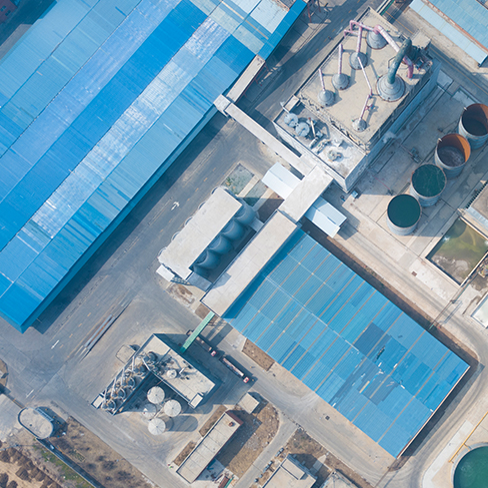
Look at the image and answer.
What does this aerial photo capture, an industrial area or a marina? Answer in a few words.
industrial area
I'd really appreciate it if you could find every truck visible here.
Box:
[183,330,217,358]
[219,355,249,384]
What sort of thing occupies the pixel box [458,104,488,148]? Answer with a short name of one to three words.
storage tank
